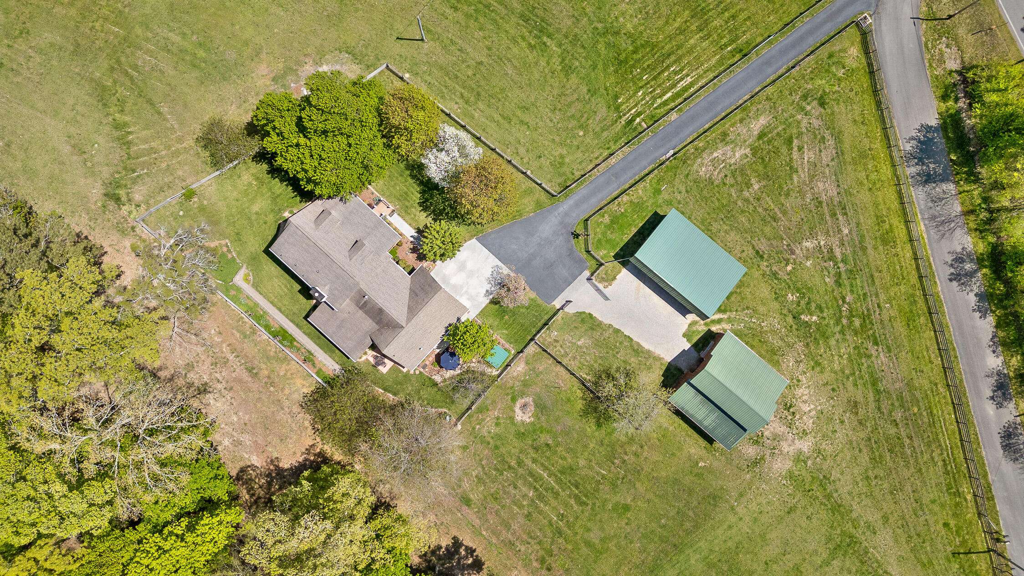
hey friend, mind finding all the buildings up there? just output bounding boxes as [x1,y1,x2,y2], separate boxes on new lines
[668,330,789,451]
[629,208,747,319]
[269,180,469,372]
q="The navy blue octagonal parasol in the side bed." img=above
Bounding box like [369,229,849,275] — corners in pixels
[441,351,459,368]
